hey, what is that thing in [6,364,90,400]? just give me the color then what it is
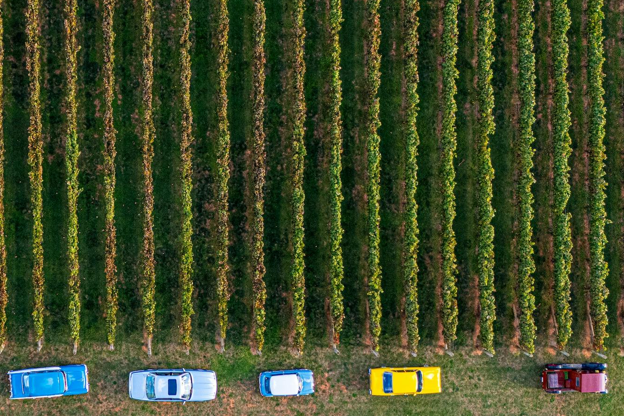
blue car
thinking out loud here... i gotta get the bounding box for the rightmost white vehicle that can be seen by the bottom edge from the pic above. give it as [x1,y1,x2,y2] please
[259,368,315,397]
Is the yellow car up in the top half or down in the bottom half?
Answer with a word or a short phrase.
bottom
